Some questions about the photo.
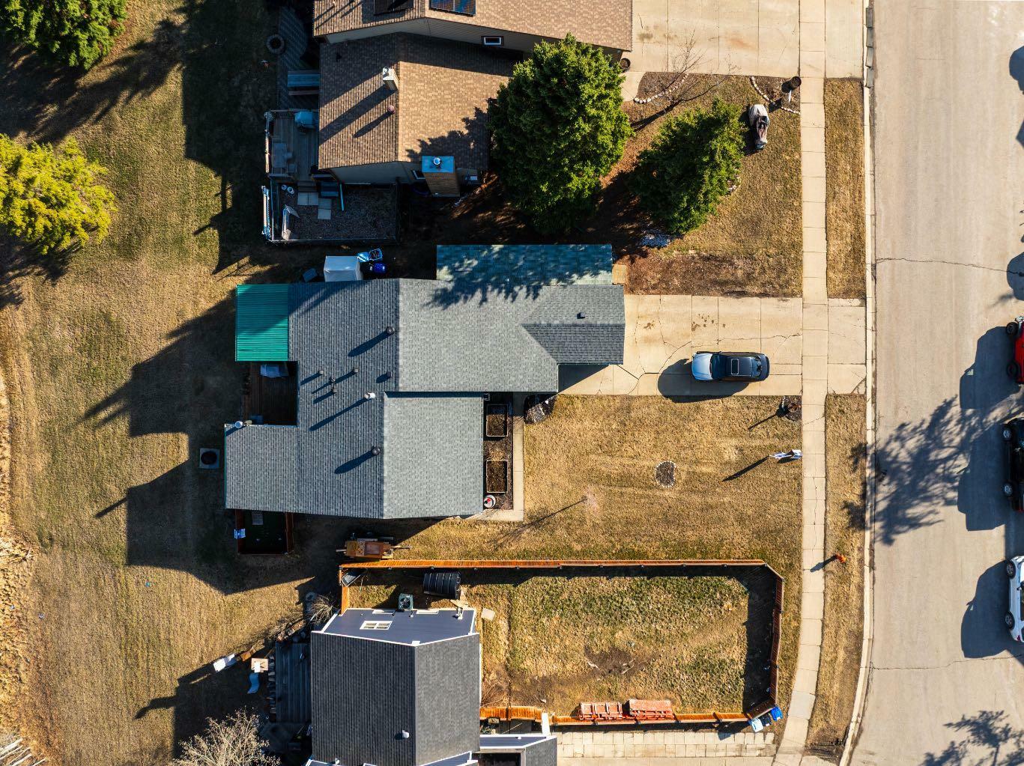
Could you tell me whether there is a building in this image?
Yes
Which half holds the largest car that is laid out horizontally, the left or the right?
right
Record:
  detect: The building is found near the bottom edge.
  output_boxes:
[309,606,557,766]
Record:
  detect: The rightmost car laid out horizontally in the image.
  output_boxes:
[690,349,771,386]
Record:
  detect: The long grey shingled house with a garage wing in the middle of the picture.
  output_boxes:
[223,278,627,520]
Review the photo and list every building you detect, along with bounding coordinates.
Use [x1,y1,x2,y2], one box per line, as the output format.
[223,278,627,520]
[310,0,634,195]
[309,606,557,766]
